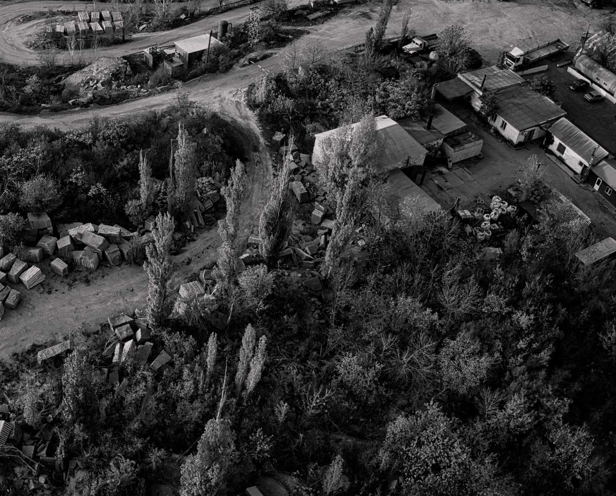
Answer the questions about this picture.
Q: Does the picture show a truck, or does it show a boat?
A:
truck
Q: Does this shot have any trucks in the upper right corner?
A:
Yes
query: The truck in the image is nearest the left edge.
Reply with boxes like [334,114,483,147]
[403,28,450,52]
